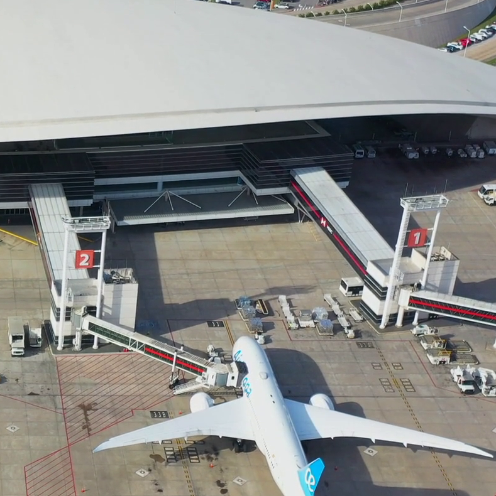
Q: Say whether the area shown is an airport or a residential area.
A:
airport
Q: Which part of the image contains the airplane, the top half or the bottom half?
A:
bottom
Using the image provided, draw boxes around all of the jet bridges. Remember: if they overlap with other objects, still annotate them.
[396,284,496,358]
[71,307,256,403]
